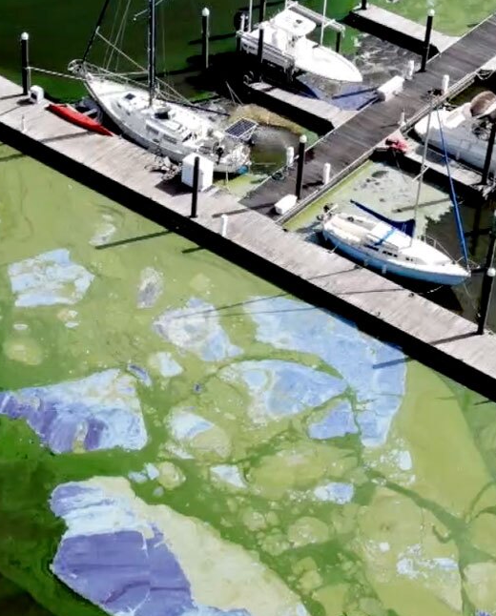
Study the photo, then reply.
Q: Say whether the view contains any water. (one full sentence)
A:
Yes, there is water in the image.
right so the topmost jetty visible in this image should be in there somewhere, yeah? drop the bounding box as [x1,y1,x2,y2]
[354,5,455,58]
